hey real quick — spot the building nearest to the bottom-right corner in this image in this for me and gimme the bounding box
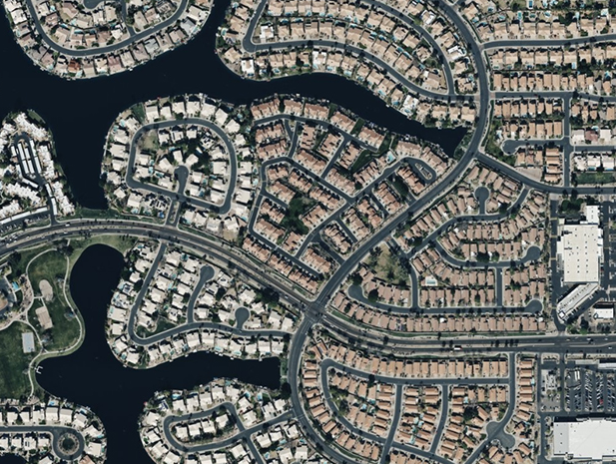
[554,418,616,462]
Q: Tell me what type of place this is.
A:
residential area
